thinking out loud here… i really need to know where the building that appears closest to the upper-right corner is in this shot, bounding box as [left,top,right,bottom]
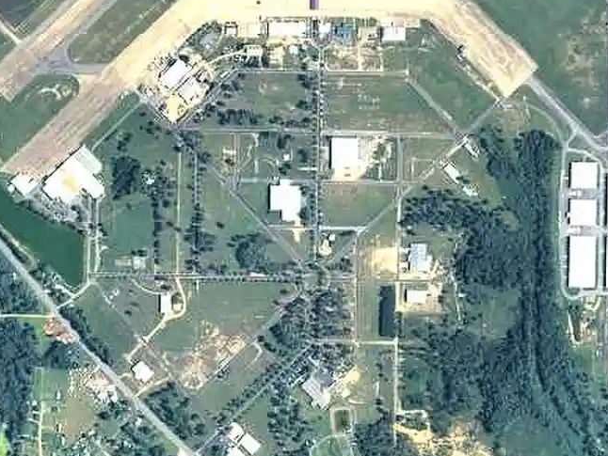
[570,162,597,188]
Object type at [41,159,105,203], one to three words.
building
